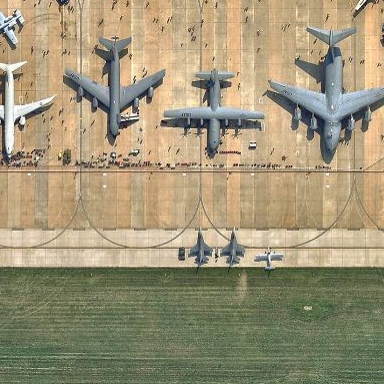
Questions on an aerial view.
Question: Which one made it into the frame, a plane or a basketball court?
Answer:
plane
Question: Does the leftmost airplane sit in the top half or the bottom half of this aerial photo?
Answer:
top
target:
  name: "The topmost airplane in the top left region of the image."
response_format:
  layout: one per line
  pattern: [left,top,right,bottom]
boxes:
[0,9,24,45]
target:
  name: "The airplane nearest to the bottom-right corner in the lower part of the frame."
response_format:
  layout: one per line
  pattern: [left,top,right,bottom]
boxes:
[253,248,283,269]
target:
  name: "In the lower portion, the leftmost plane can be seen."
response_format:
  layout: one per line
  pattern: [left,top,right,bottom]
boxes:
[189,228,213,266]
